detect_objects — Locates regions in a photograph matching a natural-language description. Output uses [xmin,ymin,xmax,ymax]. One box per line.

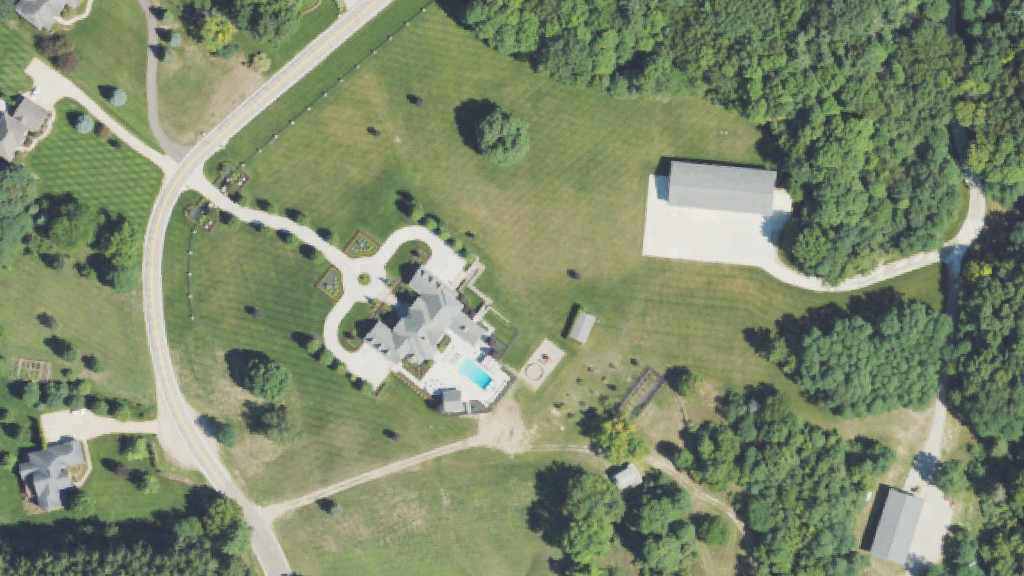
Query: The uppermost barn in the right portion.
[668,161,778,214]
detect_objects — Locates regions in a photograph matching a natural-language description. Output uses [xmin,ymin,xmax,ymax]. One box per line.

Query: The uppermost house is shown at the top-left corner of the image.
[10,0,82,35]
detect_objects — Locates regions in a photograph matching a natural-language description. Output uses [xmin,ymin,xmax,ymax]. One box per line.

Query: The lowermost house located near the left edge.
[18,441,85,510]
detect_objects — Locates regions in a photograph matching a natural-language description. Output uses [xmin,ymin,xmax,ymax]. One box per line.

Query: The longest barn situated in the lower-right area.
[871,490,924,565]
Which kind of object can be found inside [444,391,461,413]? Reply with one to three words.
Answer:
building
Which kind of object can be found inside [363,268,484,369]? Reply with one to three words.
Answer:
house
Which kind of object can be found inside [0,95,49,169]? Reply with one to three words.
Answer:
house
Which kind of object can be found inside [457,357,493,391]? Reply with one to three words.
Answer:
swimming pool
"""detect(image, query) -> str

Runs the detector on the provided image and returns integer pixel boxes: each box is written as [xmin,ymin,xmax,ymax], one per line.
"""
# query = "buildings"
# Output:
[10,0,82,35]
[871,490,924,565]
[444,391,461,413]
[0,95,49,169]
[615,464,642,489]
[668,161,778,214]
[570,312,596,344]
[363,268,484,369]
[18,441,85,510]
